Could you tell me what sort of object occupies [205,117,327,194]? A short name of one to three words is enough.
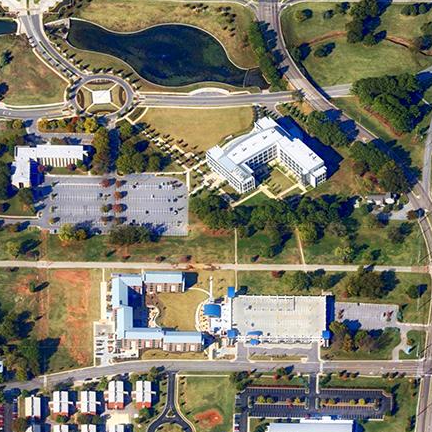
building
